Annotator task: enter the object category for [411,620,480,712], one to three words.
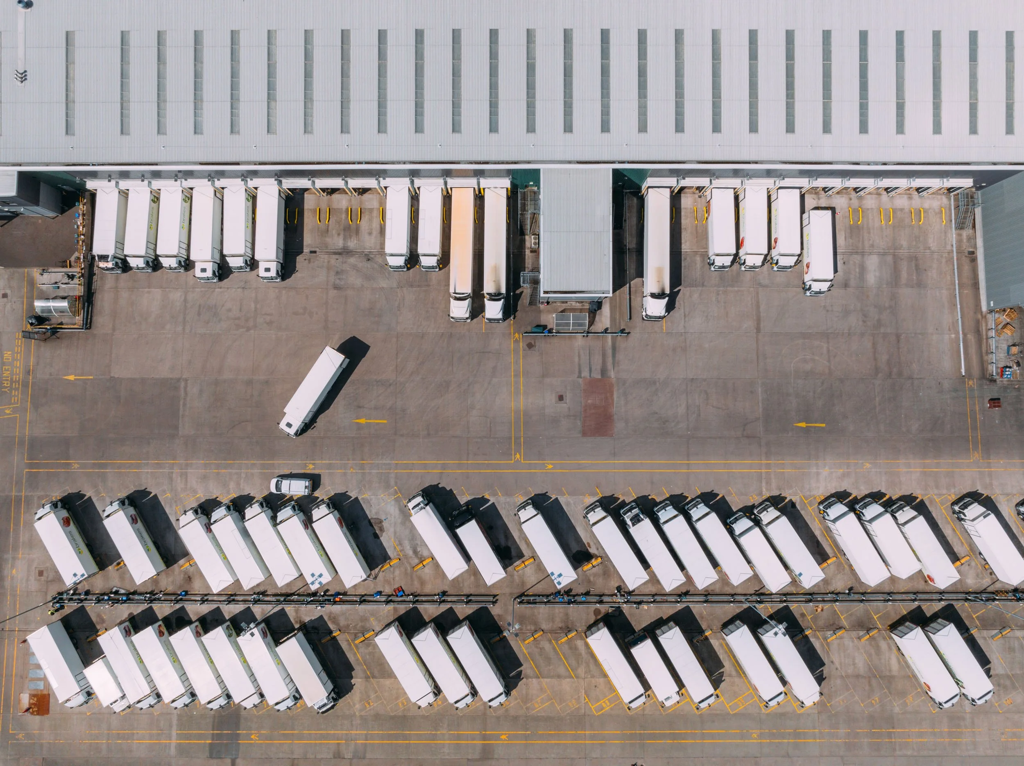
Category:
truck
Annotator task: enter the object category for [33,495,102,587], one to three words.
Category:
truck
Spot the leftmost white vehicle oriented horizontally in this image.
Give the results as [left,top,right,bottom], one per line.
[270,477,314,498]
